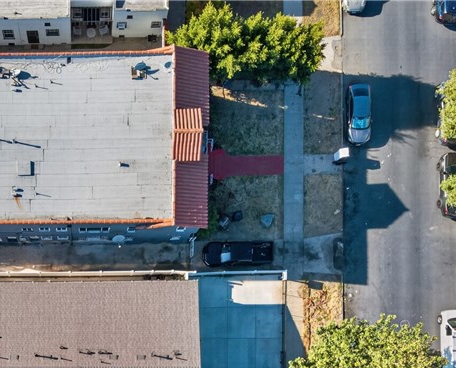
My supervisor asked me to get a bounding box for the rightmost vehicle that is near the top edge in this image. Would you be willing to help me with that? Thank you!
[431,0,456,26]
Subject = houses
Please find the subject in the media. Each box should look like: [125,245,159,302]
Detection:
[0,278,203,368]
[0,0,167,45]
[0,36,218,246]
